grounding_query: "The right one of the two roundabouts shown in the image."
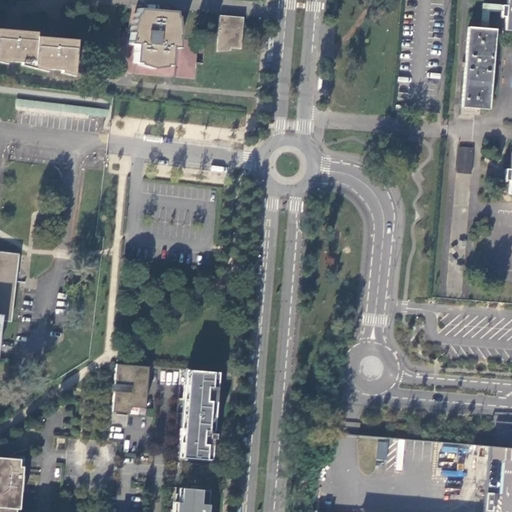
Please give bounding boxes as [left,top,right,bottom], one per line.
[342,339,400,399]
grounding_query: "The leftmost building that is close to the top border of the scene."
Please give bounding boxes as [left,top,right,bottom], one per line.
[0,24,40,68]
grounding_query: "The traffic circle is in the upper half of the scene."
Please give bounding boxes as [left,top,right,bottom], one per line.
[258,135,318,194]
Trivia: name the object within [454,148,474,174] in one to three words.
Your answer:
shed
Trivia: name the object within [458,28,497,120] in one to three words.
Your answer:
building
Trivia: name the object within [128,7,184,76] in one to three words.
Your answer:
building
